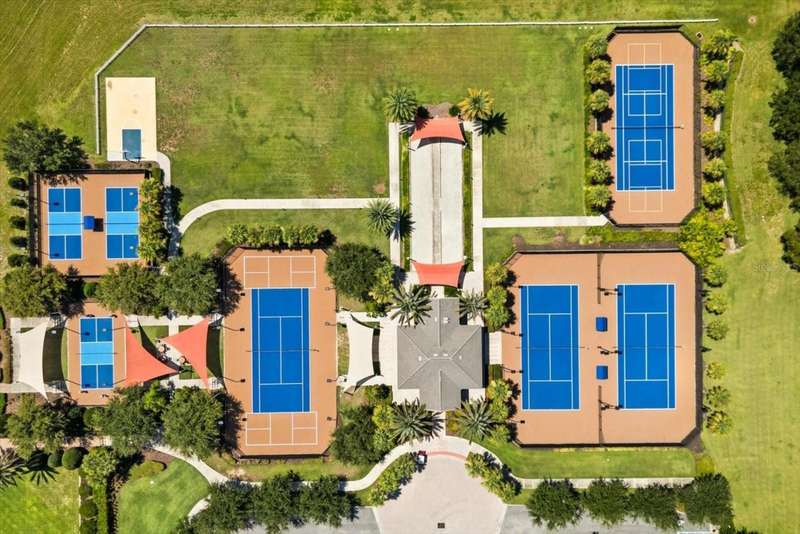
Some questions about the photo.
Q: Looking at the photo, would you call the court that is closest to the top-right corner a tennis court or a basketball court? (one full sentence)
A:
In the photo, the court that is closest to the top-right corner shows up as a tennis court.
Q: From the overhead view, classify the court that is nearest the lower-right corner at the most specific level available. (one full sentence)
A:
I'd identify the court that is nearest the lower-right corner as a tennis court.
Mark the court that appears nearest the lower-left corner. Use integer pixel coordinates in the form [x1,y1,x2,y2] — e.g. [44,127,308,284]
[66,303,125,404]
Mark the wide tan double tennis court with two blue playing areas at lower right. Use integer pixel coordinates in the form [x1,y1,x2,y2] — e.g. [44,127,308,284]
[502,252,697,444]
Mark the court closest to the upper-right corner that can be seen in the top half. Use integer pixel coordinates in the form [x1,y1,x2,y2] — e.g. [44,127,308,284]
[609,33,695,223]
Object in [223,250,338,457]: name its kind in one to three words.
tennis court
